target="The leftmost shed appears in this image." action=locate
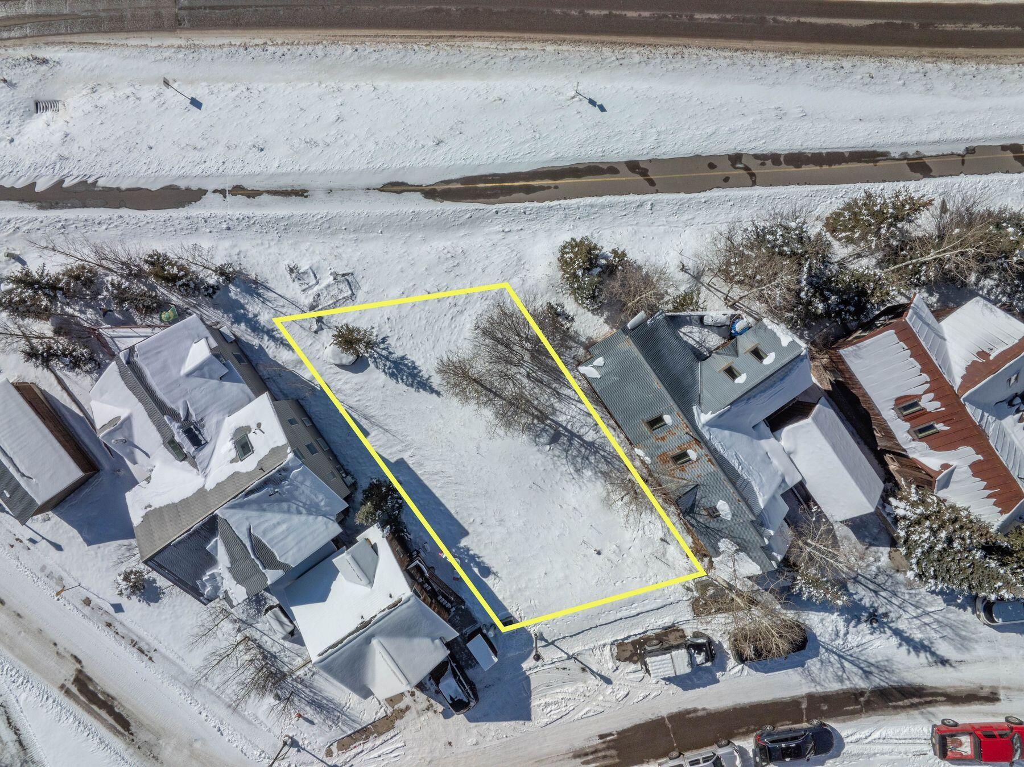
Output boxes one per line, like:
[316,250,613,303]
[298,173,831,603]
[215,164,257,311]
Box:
[0,378,103,526]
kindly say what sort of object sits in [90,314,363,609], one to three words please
house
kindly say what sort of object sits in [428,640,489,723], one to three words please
car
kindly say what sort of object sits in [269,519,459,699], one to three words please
house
